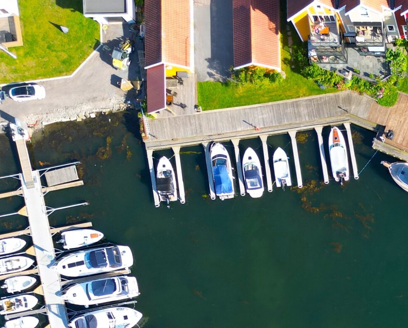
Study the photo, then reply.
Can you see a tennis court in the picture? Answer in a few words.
No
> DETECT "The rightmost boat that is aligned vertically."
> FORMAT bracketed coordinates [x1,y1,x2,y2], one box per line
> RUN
[321,127,349,188]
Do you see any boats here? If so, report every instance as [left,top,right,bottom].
[0,277,37,294]
[0,239,27,256]
[208,139,237,203]
[0,296,38,316]
[0,258,35,276]
[53,274,143,310]
[47,243,142,280]
[1,318,40,328]
[153,154,179,206]
[243,148,267,201]
[273,145,292,194]
[54,229,104,249]
[67,305,140,328]
[321,127,349,188]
